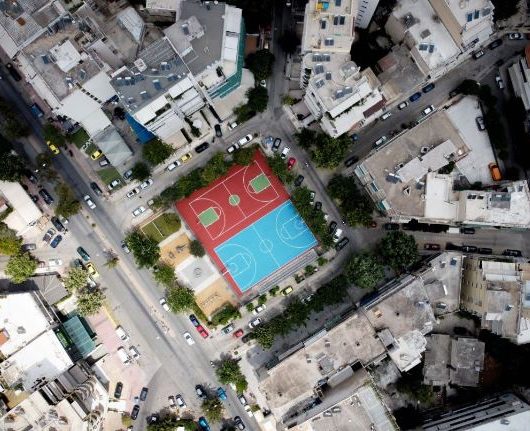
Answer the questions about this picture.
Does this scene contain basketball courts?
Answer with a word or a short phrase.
Yes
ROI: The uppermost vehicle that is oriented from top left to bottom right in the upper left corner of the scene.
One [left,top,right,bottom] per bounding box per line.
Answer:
[7,66,20,81]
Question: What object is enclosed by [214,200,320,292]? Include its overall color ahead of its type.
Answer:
blue basketball court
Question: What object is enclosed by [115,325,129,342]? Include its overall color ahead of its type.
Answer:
white vehicle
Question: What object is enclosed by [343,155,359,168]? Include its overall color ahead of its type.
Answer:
black vehicle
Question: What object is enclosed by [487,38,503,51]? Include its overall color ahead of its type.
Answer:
black vehicle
